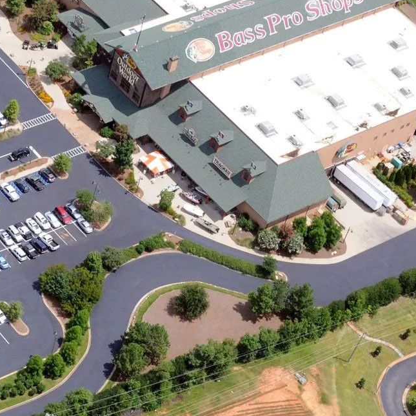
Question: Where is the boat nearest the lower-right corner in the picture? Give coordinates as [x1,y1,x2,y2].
[195,218,221,233]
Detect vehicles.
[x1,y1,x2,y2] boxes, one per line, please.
[0,254,9,270]
[14,220,35,240]
[1,181,21,202]
[55,205,72,225]
[0,311,8,326]
[6,223,24,242]
[22,40,30,49]
[20,240,41,260]
[10,148,30,160]
[34,211,51,230]
[24,171,45,192]
[9,242,27,262]
[24,217,42,235]
[40,232,61,252]
[31,42,38,50]
[41,167,58,184]
[0,110,8,127]
[13,176,30,195]
[77,217,94,234]
[44,211,61,228]
[64,203,82,220]
[0,228,15,246]
[30,234,49,253]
